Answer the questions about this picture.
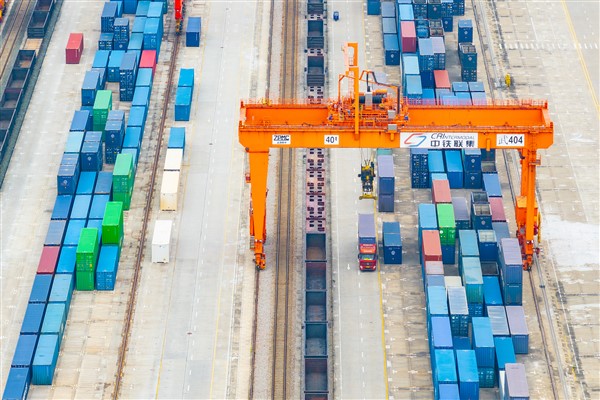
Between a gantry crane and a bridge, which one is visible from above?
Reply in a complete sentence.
Looking from above, you can make out a gantry crane.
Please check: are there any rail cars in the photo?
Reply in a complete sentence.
Yes, the photo shows a rail car.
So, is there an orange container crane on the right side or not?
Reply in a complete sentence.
Yes, an orange container crane shows up on the right side.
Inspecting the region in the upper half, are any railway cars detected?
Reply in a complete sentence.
Yes, a railway car shows up in the upper half.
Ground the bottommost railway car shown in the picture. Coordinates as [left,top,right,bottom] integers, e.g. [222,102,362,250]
[305,220,325,233]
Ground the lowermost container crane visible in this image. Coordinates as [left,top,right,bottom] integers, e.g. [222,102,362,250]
[240,43,554,269]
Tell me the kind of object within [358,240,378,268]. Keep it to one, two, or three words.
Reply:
vehicle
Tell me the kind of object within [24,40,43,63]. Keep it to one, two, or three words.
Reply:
rail car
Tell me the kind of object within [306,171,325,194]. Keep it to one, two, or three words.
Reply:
rail car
